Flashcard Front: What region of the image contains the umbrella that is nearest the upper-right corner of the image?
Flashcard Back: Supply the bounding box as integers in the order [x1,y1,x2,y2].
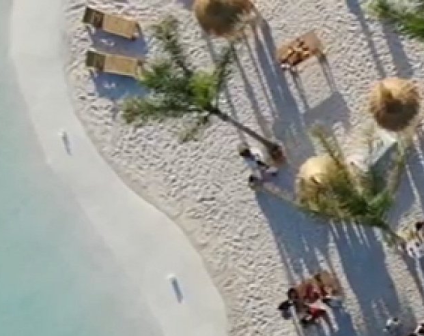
[368,79,423,133]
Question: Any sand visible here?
Yes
